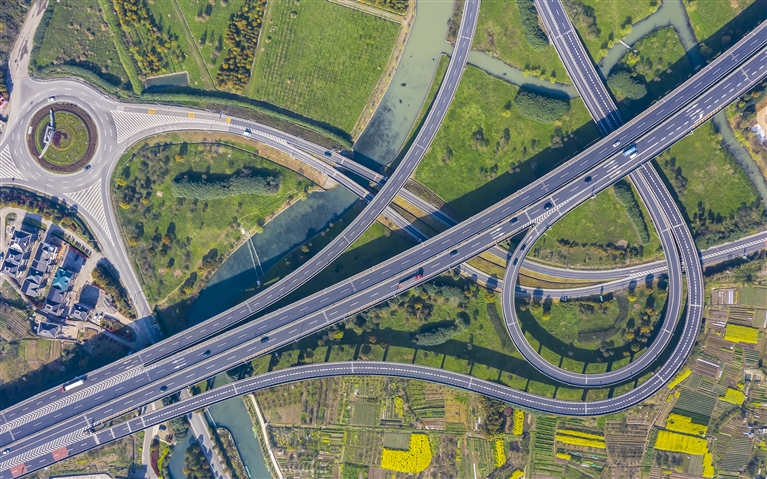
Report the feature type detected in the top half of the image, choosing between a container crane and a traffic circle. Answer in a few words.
traffic circle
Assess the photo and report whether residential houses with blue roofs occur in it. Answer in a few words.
Yes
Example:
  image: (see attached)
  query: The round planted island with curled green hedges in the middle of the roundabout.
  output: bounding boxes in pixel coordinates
[26,101,99,175]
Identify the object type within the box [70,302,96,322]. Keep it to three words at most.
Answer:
house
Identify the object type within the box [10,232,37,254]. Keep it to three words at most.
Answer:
house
